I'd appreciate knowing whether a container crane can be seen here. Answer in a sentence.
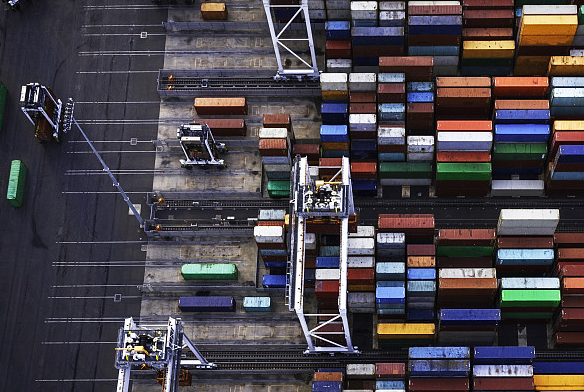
Yes, this view includes a container crane.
